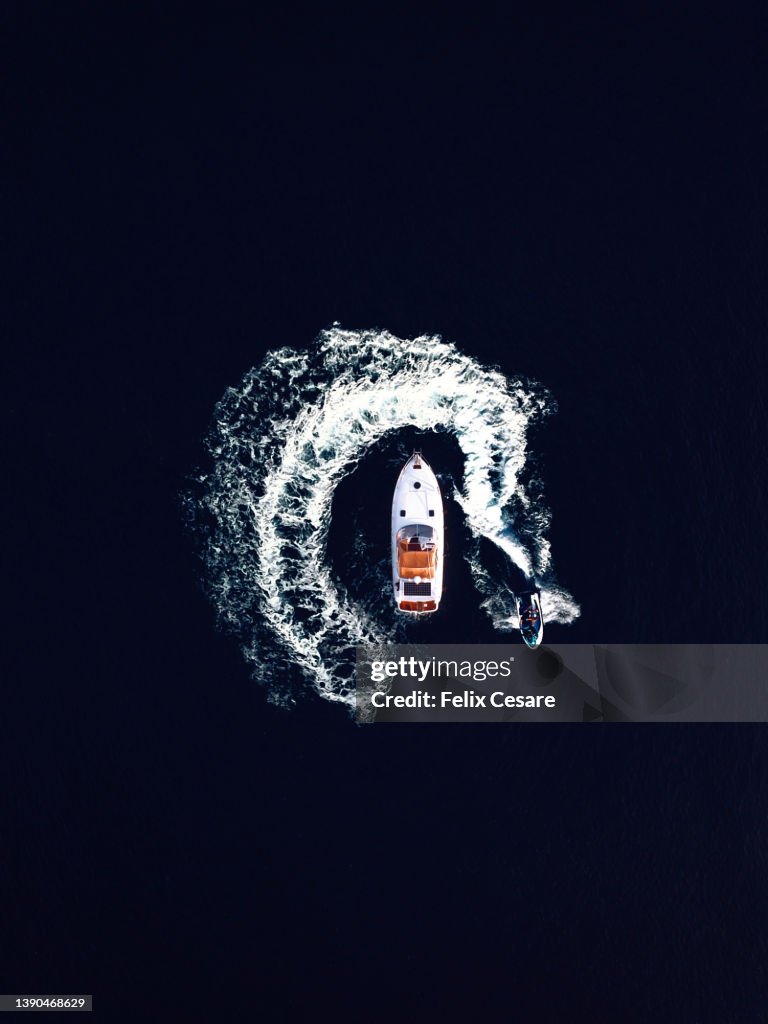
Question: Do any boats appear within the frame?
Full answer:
Yes, this view includes a boat.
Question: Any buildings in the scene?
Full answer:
No, the frame has no building in it.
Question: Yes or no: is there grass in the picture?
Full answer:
No, no grass is visible.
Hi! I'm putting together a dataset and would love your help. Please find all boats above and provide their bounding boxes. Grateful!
[517,587,542,649]
[391,447,444,613]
